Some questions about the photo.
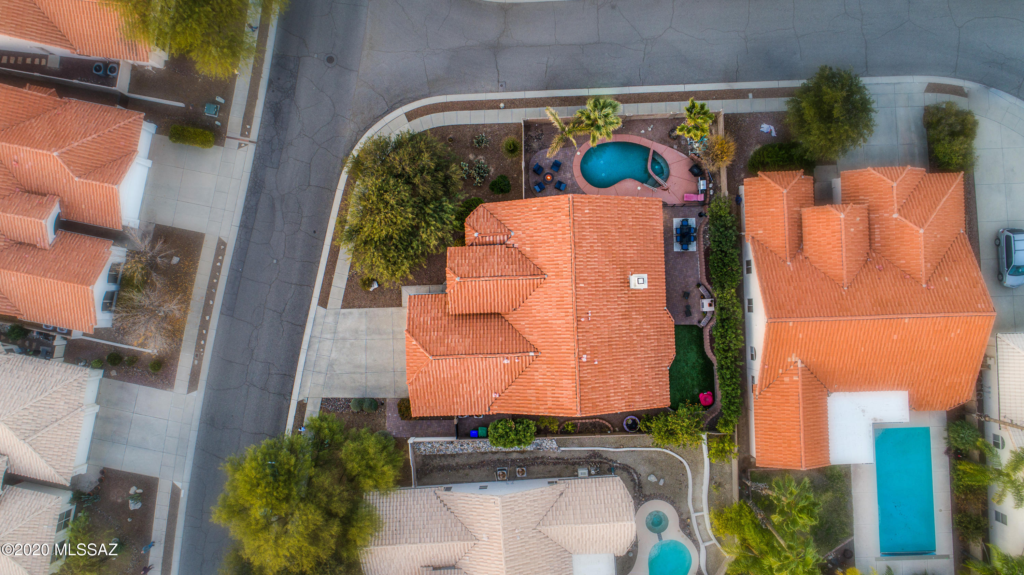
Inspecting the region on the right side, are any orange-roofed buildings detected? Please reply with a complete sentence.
Yes, I can see an orange-roofed building on the right side.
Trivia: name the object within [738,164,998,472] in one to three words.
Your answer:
house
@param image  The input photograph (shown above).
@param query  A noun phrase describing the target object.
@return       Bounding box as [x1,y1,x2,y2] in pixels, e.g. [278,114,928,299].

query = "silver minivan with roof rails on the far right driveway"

[994,230,1024,286]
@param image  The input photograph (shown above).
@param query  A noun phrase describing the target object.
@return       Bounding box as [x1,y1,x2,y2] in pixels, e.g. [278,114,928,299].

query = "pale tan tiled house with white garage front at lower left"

[0,355,117,575]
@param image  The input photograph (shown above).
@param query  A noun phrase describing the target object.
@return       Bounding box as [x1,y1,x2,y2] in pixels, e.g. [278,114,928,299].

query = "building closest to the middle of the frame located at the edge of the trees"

[404,193,678,418]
